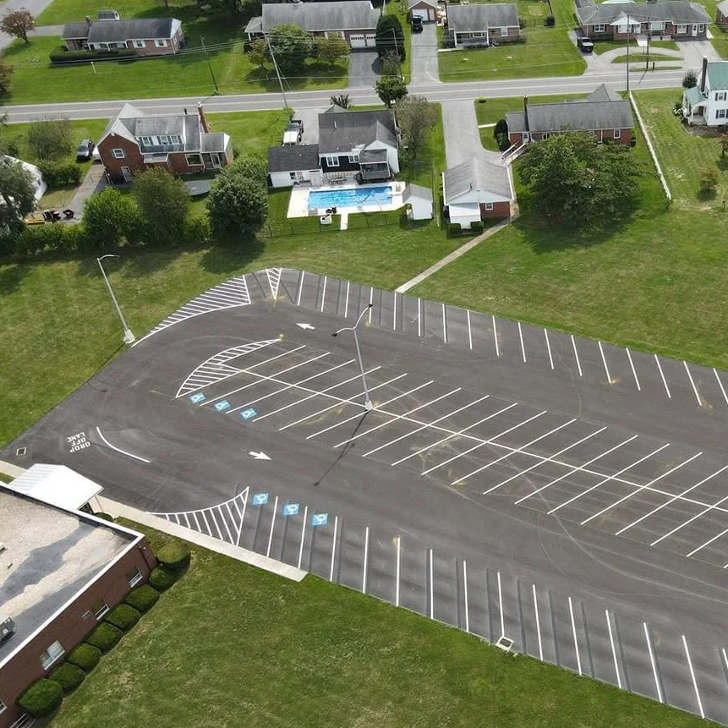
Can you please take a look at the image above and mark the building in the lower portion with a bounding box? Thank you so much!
[0,476,156,718]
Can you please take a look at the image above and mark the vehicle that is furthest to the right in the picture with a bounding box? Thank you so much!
[578,34,594,50]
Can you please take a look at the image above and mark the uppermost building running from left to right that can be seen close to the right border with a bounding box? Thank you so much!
[580,0,710,40]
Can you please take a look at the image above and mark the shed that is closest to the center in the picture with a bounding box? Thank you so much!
[406,182,437,220]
